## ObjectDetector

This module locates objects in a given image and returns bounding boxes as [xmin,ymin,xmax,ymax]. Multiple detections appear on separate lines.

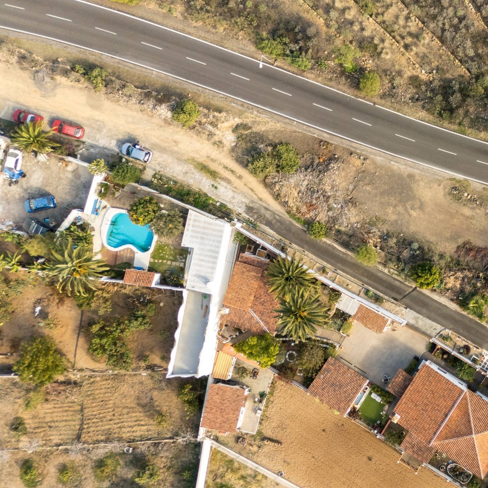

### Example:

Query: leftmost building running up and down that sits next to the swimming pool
[168,210,247,380]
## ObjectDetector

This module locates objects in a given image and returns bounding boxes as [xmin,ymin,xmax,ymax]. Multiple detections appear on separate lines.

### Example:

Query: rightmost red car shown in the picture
[54,118,87,139]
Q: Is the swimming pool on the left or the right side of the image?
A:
left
